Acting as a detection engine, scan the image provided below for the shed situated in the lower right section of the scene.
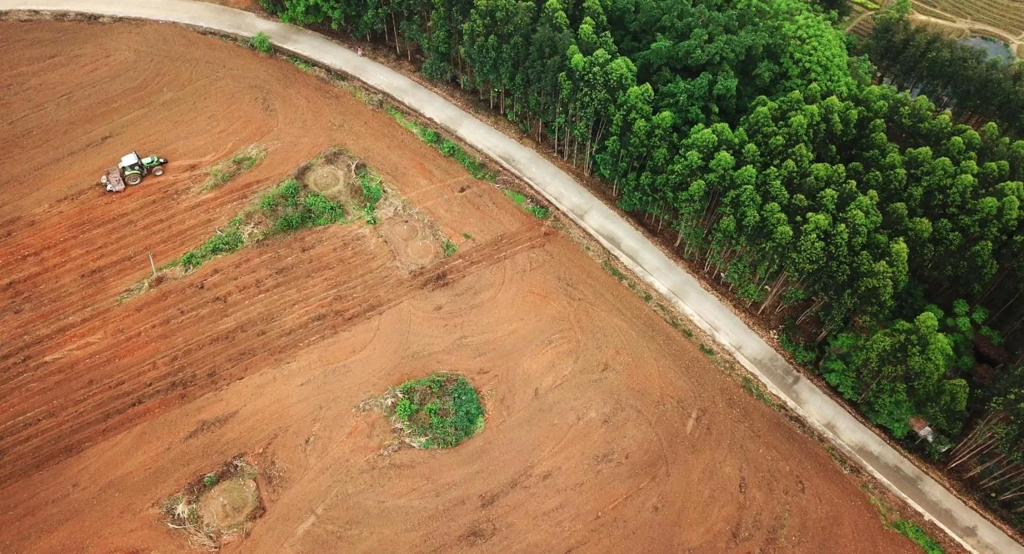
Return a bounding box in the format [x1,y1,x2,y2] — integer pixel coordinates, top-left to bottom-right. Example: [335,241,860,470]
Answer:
[902,415,938,451]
